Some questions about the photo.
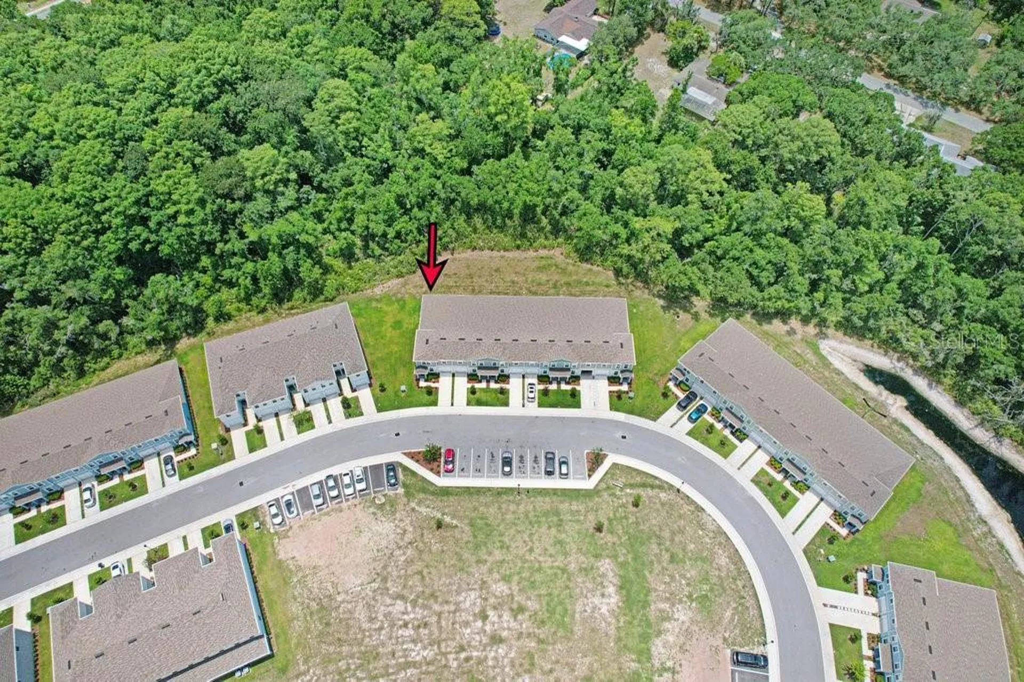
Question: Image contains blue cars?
Yes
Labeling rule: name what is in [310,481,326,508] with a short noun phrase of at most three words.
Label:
car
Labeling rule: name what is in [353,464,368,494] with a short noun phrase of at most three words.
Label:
vehicle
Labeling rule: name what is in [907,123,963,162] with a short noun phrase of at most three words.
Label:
house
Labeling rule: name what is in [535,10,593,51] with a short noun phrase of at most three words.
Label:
house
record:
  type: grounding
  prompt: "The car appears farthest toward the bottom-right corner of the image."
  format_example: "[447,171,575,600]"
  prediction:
[734,652,765,668]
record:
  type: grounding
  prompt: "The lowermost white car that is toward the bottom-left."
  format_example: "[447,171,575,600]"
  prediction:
[109,558,127,579]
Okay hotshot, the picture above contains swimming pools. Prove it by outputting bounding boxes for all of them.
[553,50,578,68]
